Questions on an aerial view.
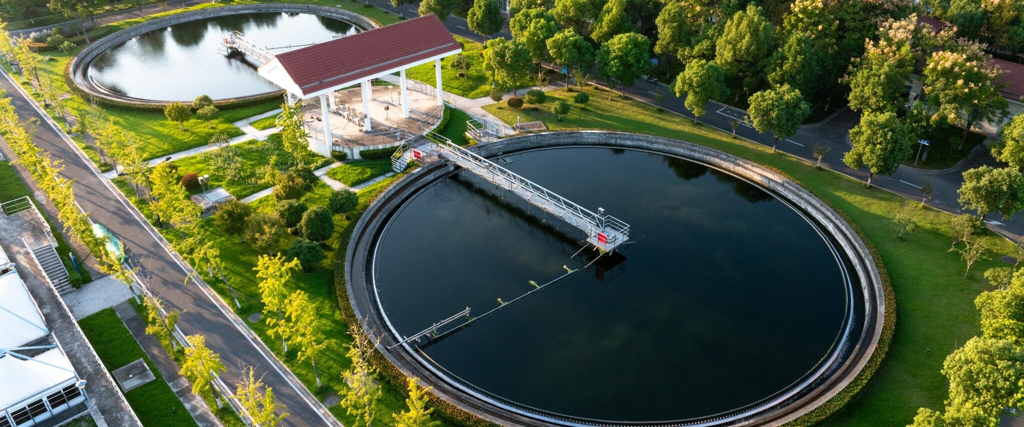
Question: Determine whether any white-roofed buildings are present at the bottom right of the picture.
No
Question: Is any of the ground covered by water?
Yes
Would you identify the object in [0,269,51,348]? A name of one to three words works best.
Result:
building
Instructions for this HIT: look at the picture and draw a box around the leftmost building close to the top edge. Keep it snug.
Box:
[255,14,462,155]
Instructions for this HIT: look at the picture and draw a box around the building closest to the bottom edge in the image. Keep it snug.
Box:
[0,336,91,427]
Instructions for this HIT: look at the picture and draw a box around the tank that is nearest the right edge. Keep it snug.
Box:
[344,130,884,427]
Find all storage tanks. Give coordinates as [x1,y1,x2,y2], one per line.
[70,3,383,105]
[344,130,884,427]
